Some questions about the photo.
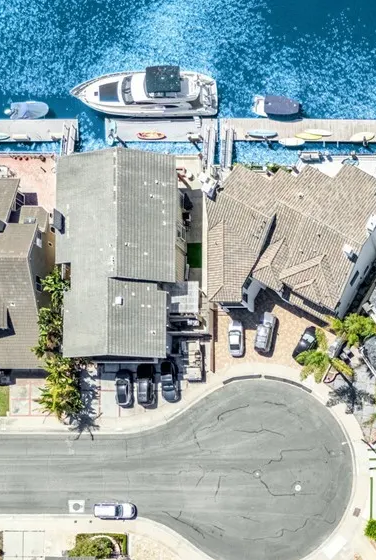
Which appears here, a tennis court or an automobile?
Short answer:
automobile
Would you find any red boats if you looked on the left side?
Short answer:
No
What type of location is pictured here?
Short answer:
residential area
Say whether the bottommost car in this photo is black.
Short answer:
No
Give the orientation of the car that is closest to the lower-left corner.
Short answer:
from left to right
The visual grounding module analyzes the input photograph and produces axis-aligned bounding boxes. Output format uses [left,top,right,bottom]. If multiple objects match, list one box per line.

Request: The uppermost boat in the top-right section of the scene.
[250,96,302,116]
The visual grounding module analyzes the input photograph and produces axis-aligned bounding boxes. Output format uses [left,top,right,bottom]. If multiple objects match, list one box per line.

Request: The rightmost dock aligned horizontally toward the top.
[220,119,376,143]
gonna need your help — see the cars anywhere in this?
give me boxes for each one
[114,370,135,406]
[290,324,318,362]
[96,500,138,520]
[134,364,157,405]
[226,318,247,358]
[160,361,181,401]
[254,312,279,355]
